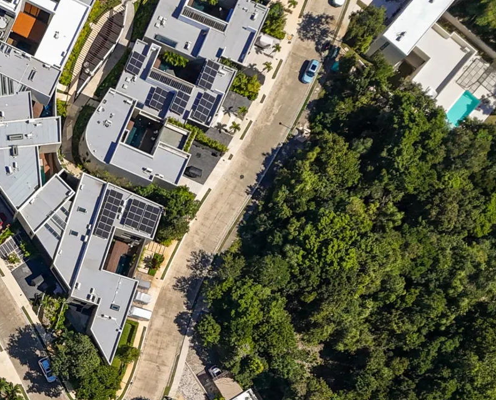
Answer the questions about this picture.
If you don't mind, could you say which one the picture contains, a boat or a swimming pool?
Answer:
swimming pool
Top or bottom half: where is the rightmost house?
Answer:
top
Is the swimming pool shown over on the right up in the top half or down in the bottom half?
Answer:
top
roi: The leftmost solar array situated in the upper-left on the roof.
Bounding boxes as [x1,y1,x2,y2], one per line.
[125,52,145,75]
